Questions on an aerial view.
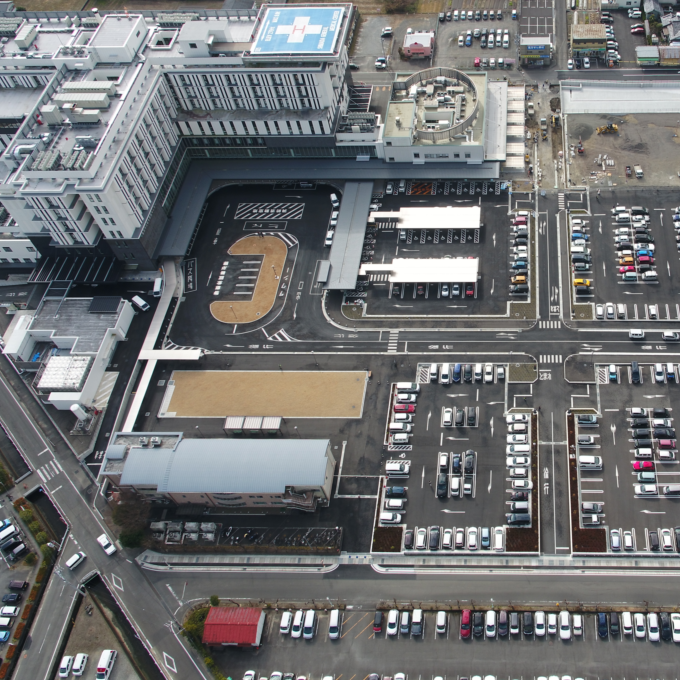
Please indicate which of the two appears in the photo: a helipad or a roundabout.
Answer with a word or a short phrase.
helipad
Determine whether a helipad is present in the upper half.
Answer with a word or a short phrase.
Yes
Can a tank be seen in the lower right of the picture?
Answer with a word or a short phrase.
No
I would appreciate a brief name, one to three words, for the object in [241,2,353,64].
helipad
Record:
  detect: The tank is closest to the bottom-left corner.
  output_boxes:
[62,398,103,435]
